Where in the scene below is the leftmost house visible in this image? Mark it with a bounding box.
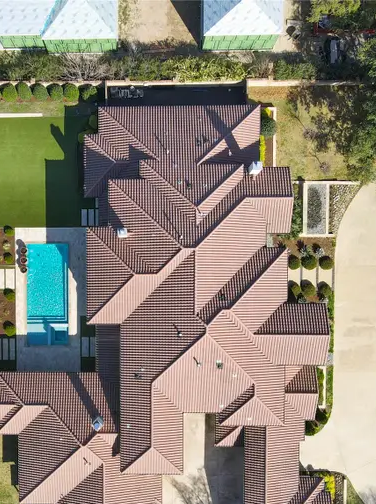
[0,0,118,54]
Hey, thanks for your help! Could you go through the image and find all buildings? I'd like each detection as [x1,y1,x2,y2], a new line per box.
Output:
[0,103,332,504]
[200,0,283,49]
[0,0,118,54]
